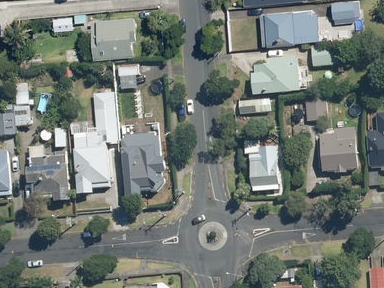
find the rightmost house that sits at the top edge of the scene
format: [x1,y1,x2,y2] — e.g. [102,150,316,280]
[332,0,362,25]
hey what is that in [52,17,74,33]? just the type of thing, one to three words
shed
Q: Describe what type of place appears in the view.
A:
residential area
